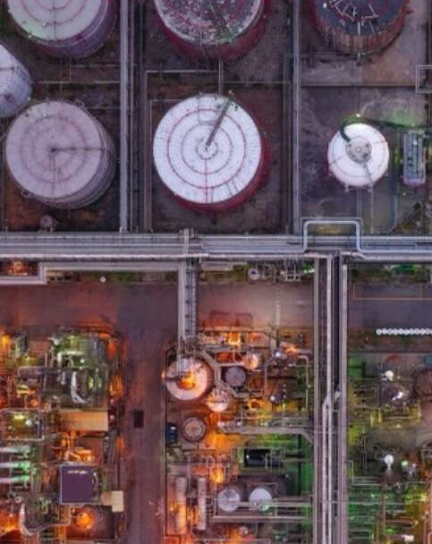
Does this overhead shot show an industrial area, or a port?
industrial area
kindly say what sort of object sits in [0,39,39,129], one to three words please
storage tank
